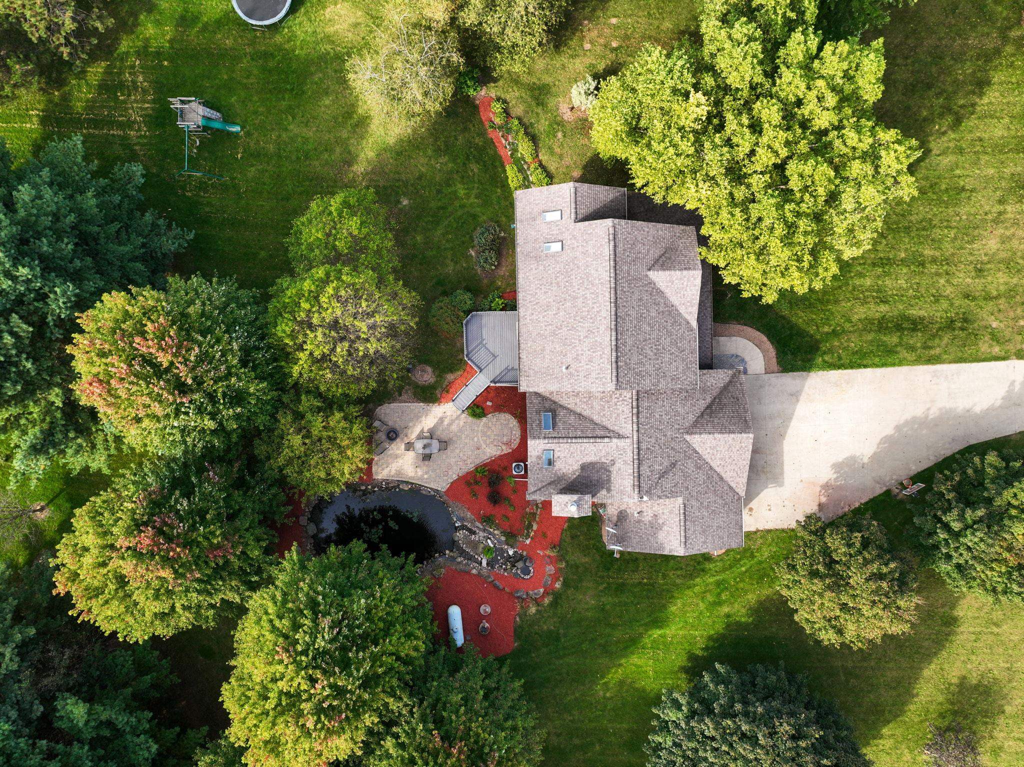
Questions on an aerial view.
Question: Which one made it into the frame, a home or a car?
home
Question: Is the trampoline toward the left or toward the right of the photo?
left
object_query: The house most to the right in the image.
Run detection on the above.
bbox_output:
[513,183,753,556]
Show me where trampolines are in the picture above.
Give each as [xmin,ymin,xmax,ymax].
[231,0,296,31]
